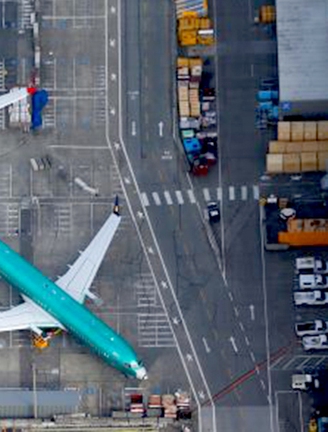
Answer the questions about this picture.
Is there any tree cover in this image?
No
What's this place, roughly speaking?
airport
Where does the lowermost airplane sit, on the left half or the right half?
left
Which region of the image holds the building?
top right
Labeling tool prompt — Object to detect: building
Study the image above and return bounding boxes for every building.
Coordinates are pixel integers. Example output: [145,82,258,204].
[278,0,328,123]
